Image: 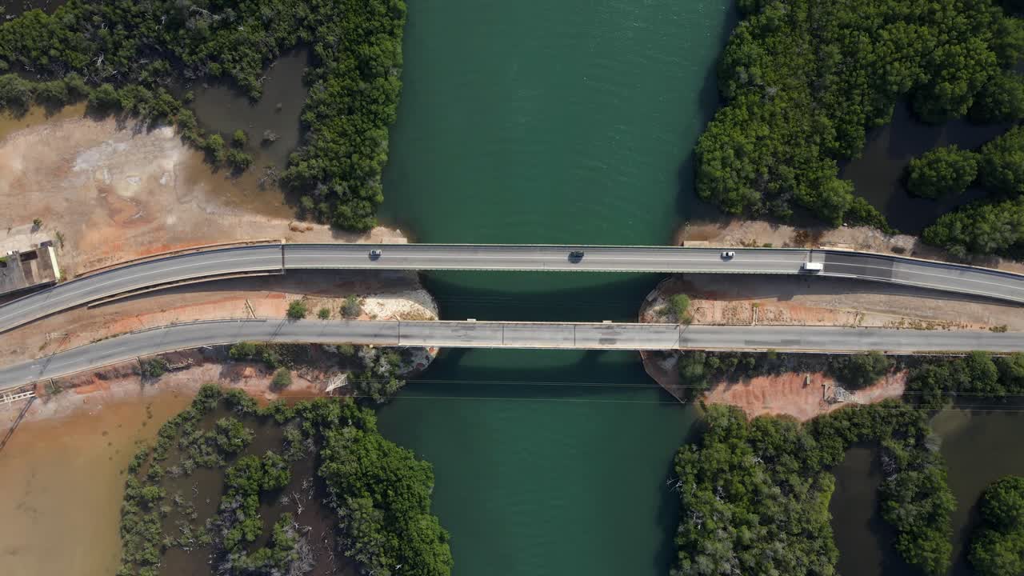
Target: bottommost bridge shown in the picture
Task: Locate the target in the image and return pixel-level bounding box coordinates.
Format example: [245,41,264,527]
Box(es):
[399,319,680,350]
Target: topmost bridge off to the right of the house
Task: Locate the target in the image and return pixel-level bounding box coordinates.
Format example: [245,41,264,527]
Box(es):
[283,238,814,277]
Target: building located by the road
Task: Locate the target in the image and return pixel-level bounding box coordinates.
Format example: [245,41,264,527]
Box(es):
[0,241,59,296]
